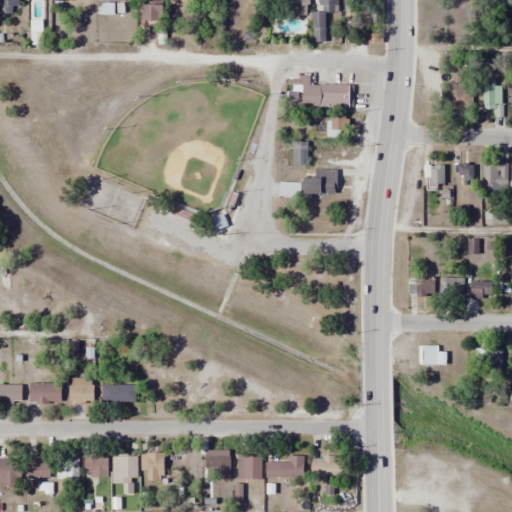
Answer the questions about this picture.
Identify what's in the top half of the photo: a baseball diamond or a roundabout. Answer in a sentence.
The feature located in the top half of the photo is a baseball diamond.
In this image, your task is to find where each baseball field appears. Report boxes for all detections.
[95,82,264,210]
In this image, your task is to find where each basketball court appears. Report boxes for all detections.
[90,182,146,228]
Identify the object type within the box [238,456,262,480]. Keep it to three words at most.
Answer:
house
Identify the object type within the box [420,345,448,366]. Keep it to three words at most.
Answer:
building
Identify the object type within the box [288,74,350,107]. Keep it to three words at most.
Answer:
building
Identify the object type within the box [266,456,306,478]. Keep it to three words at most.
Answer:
house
